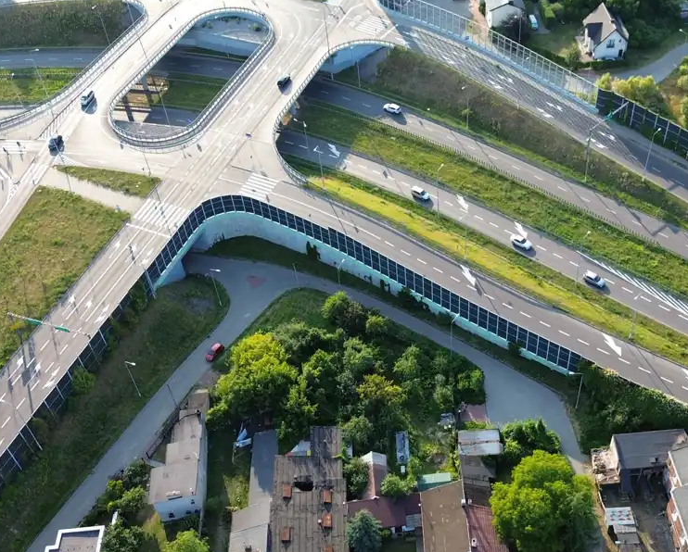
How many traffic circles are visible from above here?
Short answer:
none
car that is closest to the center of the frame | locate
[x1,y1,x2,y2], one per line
[410,184,430,199]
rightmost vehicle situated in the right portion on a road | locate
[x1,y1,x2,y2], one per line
[583,268,607,287]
